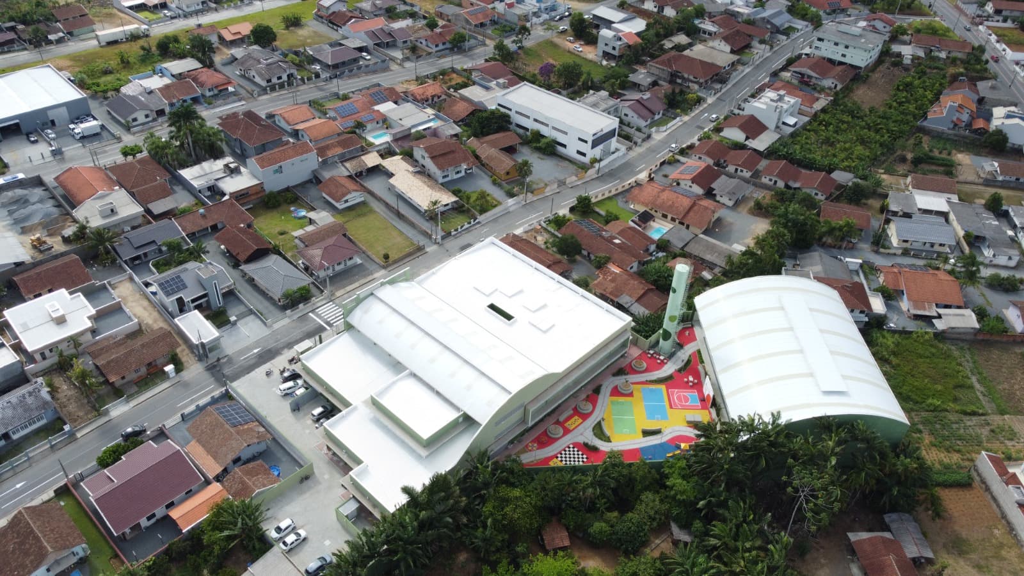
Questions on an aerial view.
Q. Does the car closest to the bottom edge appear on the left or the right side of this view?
left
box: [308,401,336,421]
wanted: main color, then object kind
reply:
gray car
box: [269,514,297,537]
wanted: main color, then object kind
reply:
white car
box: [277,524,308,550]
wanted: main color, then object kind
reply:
white car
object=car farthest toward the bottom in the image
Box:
[302,549,334,575]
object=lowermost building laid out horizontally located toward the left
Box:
[241,547,304,576]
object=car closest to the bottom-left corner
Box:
[119,421,148,439]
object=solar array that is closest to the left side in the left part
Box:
[157,274,187,294]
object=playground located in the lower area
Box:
[524,328,726,466]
